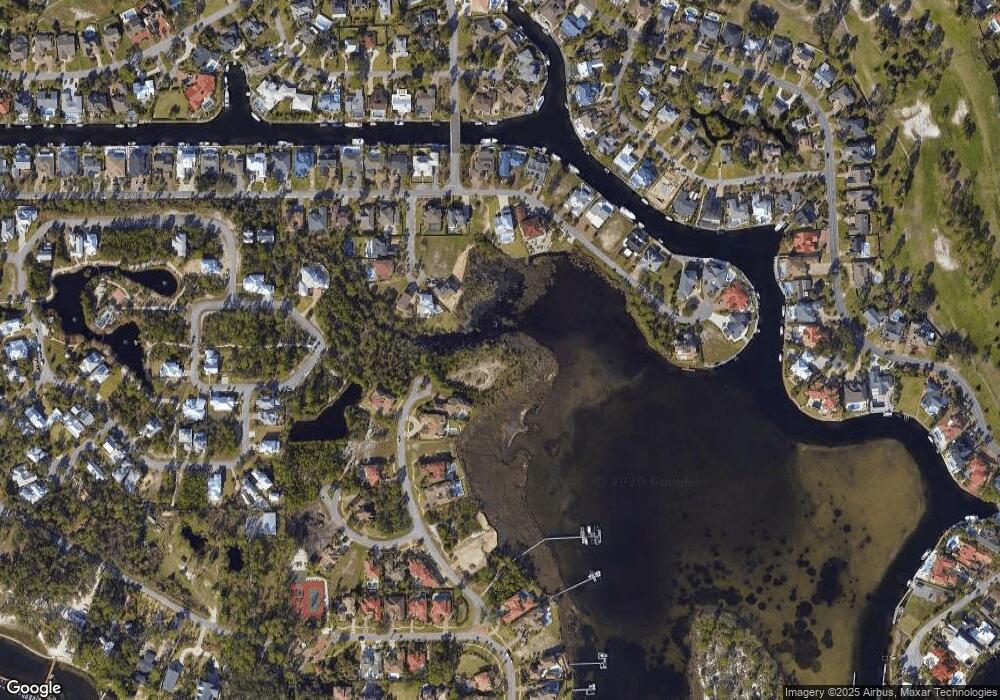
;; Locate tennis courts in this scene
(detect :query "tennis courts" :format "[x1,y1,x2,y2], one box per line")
[291,576,328,620]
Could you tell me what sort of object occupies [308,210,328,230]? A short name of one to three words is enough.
house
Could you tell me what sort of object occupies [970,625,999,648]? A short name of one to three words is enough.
house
